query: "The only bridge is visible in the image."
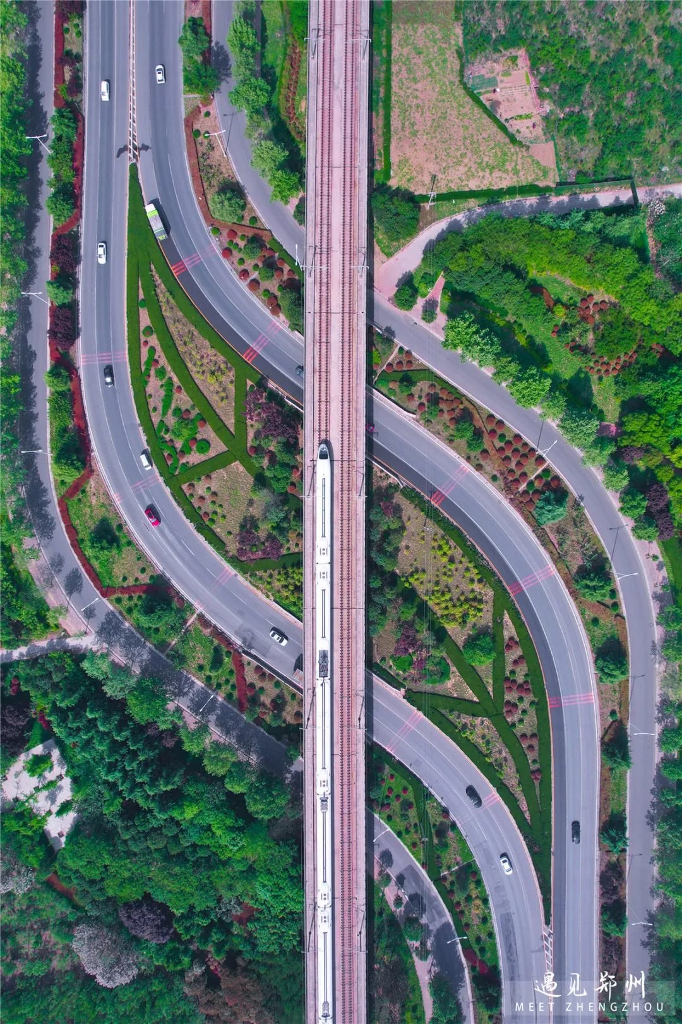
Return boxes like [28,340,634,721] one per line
[303,0,370,1024]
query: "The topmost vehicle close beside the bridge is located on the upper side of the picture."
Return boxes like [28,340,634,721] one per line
[290,364,304,381]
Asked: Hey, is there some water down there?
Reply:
No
